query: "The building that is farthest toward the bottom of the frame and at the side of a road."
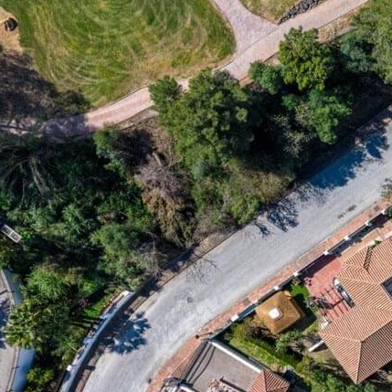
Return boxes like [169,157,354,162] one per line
[180,337,293,392]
